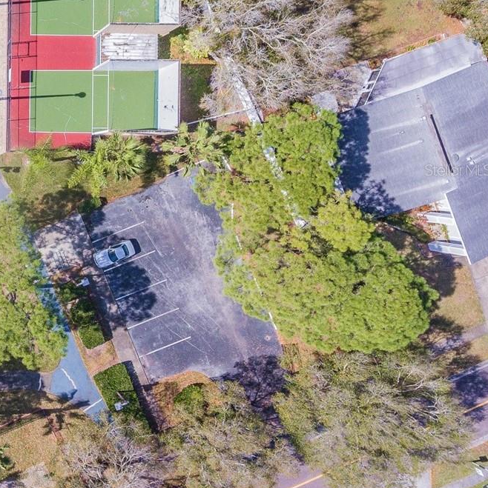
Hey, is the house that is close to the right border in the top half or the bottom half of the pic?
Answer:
top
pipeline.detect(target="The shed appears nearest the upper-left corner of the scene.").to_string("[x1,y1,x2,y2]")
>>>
[96,34,168,67]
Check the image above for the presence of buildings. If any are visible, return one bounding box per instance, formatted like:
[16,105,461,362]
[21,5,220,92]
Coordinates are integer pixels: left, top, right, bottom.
[96,34,168,67]
[337,35,488,264]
